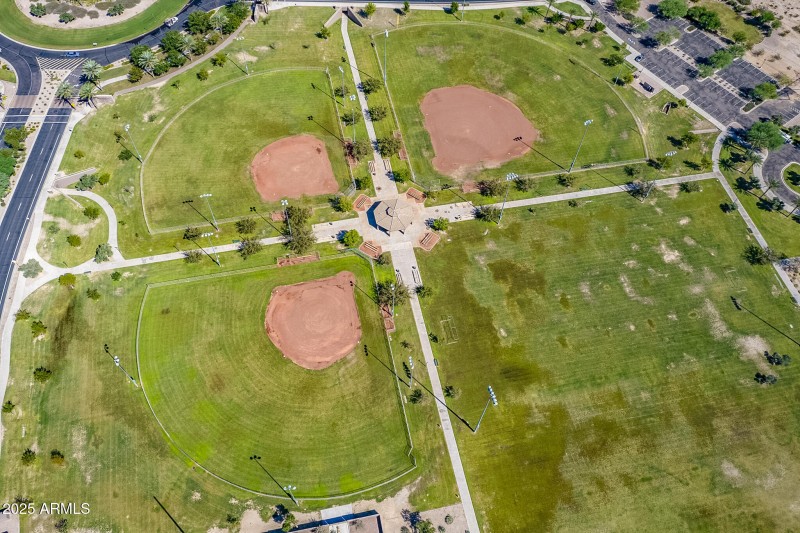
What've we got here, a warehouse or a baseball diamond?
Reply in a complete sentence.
Looking from above, you can make out a baseball diamond.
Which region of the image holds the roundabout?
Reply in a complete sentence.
The roundabout is in the top left part of the image.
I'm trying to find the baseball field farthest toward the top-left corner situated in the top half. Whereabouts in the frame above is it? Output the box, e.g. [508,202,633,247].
[139,66,358,235]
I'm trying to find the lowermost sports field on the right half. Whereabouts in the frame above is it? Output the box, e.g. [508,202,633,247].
[414,180,800,533]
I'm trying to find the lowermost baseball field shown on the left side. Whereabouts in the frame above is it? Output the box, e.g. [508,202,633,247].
[136,252,417,500]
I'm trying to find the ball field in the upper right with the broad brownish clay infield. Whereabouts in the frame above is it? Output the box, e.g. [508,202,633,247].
[370,21,648,191]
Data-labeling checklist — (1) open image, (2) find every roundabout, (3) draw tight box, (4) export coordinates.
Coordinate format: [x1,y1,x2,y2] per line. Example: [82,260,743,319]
[0,0,219,70]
